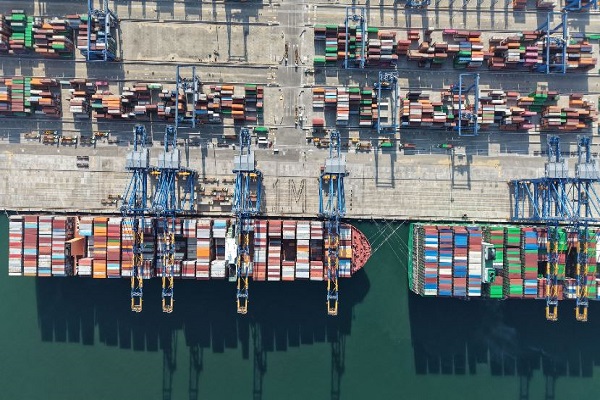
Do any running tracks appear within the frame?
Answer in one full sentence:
No, there's no running track here.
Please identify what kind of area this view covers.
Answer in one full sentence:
It's a port.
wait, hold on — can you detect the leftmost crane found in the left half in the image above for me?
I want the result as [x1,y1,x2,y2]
[86,0,122,64]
